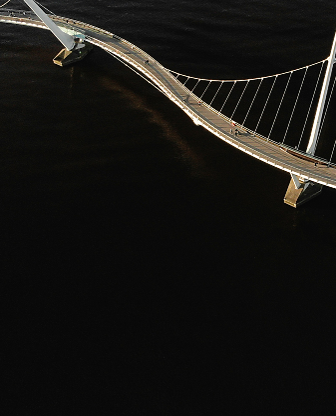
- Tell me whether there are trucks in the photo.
No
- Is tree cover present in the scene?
No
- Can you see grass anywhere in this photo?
No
